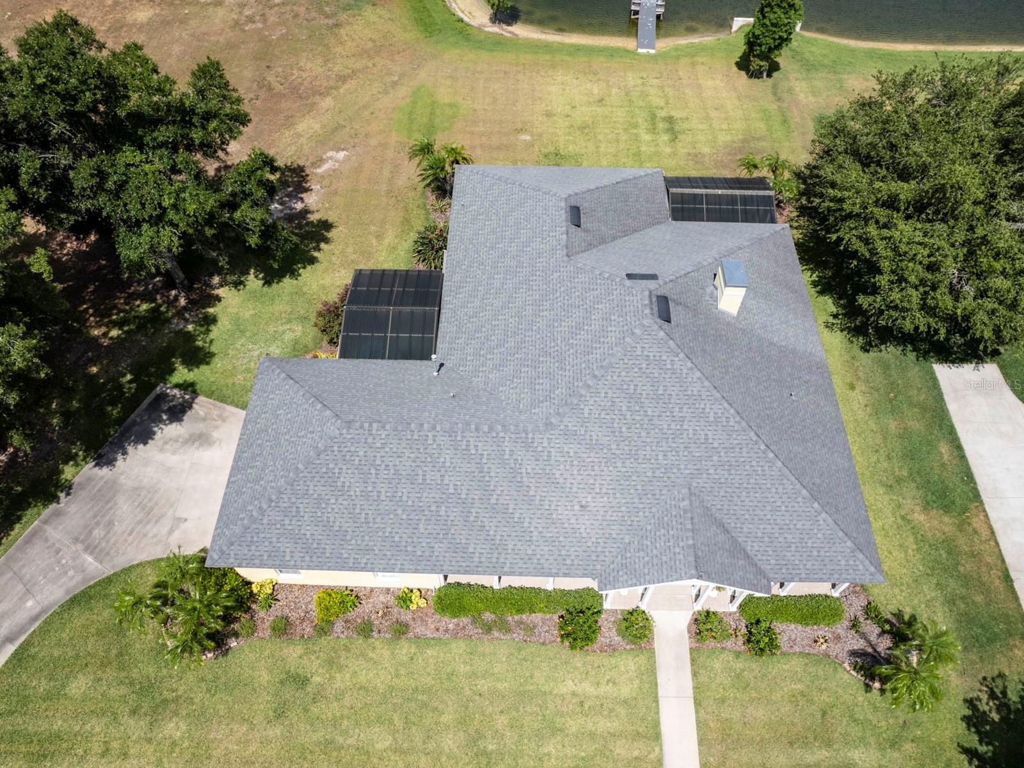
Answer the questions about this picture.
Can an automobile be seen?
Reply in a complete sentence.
No, the scene contains no automobile.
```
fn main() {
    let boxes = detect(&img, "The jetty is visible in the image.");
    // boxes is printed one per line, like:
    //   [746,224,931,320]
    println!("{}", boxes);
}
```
[621,0,660,56]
